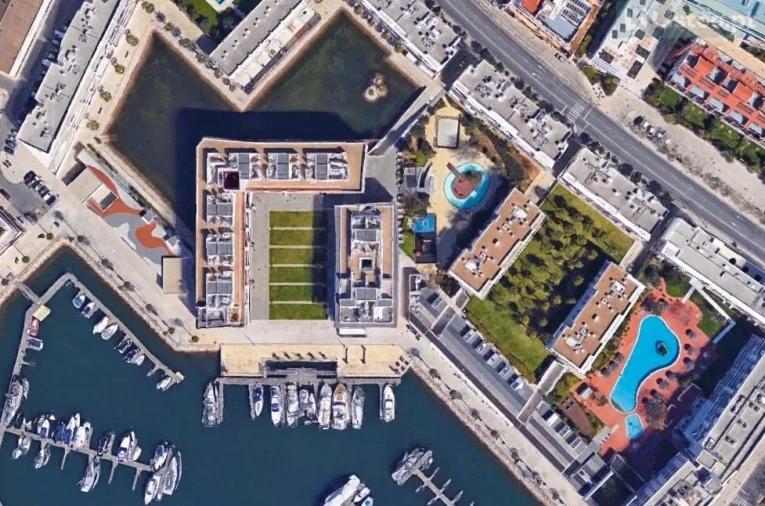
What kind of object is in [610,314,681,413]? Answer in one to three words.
swimming pool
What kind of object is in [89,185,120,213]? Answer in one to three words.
building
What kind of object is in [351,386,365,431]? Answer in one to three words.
boat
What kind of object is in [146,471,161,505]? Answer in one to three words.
boat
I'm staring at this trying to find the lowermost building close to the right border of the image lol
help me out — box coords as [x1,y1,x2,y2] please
[624,442,727,506]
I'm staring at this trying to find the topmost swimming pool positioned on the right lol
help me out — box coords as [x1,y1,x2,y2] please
[443,161,491,210]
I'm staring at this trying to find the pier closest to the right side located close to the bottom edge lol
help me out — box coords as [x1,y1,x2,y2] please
[397,448,474,506]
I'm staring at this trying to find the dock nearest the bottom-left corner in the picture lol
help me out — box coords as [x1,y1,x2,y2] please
[2,424,174,498]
